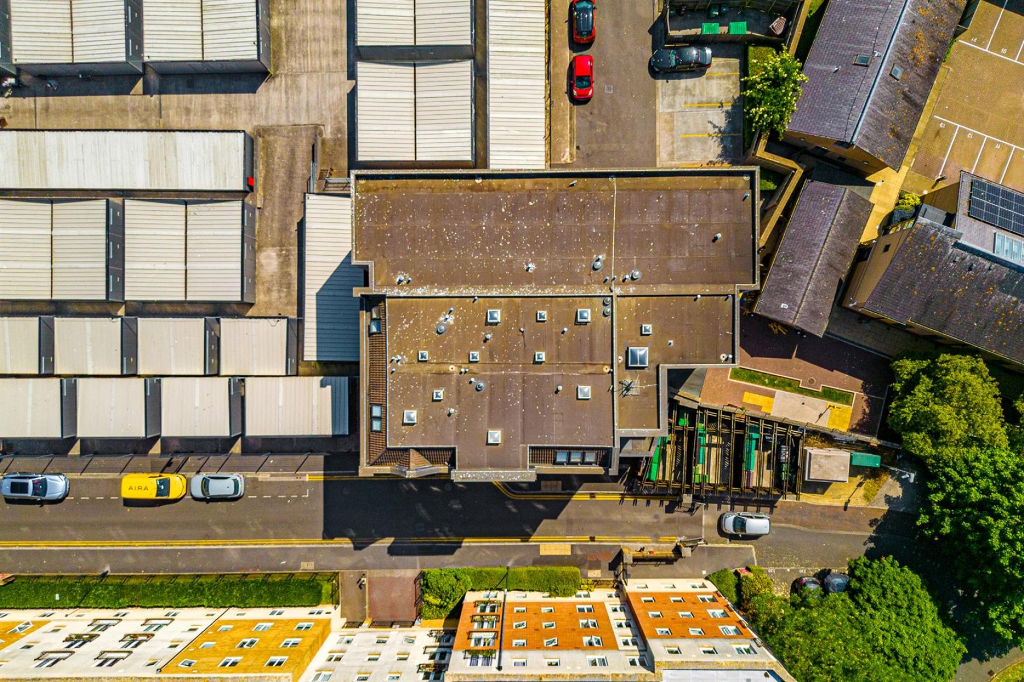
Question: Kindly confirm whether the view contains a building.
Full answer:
Yes, the picture does show a building.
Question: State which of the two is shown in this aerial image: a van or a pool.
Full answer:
There is a van in the scene.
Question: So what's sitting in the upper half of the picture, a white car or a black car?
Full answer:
Looking in the upper half of the picture, you will find a black car.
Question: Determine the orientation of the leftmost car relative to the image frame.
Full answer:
I'd say the leftmost car is aligned from left to right in the picture.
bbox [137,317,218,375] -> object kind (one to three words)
building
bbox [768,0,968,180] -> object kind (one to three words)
house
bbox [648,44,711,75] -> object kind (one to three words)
car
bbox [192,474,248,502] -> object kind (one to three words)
car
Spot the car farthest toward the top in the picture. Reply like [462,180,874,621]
[570,0,598,45]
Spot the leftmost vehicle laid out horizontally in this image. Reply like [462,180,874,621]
[3,473,73,503]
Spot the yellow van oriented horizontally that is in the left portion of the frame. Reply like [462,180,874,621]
[121,473,189,502]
